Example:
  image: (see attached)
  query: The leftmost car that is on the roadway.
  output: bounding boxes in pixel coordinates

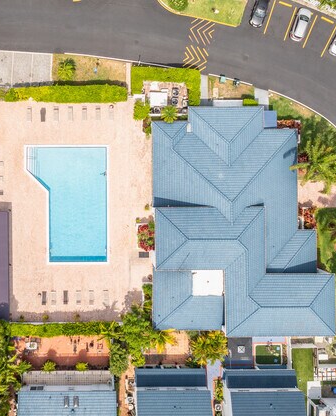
[250,0,271,27]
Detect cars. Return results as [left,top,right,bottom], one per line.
[250,0,271,27]
[327,33,336,57]
[288,7,312,44]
